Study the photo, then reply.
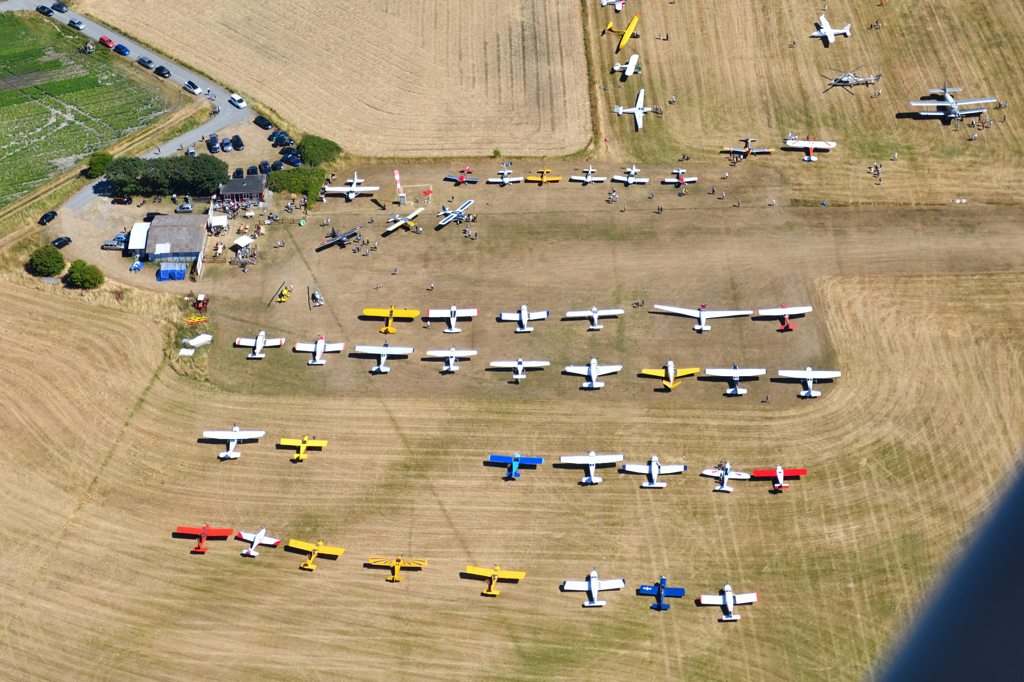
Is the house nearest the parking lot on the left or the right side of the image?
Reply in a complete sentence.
You can find the house nearest the parking lot on the left side of the picture.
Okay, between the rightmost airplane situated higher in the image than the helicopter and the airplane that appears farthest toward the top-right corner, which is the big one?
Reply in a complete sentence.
The airplane that appears farthest toward the top-right corner is bigger than the rightmost airplane situated higher in the image than the helicopter.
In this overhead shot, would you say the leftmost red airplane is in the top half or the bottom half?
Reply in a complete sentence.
The leftmost red airplane sits in the bottom half of the picture.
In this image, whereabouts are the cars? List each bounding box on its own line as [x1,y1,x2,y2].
[274,138,293,148]
[38,213,59,225]
[222,138,232,151]
[112,195,133,205]
[37,5,53,15]
[69,17,85,29]
[46,237,74,247]
[185,81,201,93]
[233,135,244,150]
[261,161,271,174]
[255,115,272,129]
[186,146,197,158]
[99,35,116,47]
[155,65,171,77]
[273,159,283,172]
[102,239,127,251]
[282,153,301,166]
[51,2,68,12]
[138,56,155,68]
[114,44,130,54]
[230,92,246,107]
[209,132,220,150]
[144,211,164,221]
[235,166,244,178]
[280,146,299,158]
[175,203,194,213]
[112,233,130,244]
[268,131,288,141]
[249,164,258,175]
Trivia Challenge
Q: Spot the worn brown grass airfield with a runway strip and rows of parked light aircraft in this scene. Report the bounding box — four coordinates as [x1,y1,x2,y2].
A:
[40,155,1024,404]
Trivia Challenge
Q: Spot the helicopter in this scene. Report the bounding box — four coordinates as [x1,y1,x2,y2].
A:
[827,66,885,88]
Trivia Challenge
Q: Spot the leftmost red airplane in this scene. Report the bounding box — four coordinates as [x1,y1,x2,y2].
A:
[176,525,233,553]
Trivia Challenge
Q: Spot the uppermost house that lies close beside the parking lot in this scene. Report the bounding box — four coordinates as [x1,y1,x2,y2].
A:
[219,174,266,203]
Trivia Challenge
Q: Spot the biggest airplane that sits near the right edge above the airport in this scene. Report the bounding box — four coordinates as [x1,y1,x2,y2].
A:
[910,84,999,123]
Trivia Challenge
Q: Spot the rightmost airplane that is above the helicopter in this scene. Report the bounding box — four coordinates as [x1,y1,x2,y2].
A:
[811,15,851,42]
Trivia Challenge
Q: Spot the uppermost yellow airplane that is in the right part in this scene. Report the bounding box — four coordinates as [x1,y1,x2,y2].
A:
[609,14,640,50]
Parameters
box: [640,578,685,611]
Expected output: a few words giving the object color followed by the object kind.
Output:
blue airplane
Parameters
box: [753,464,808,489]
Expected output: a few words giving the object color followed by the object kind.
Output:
red airplane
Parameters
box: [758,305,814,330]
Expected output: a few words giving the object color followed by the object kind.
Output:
white airplane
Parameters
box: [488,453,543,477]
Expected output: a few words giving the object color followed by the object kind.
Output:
blue airplane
